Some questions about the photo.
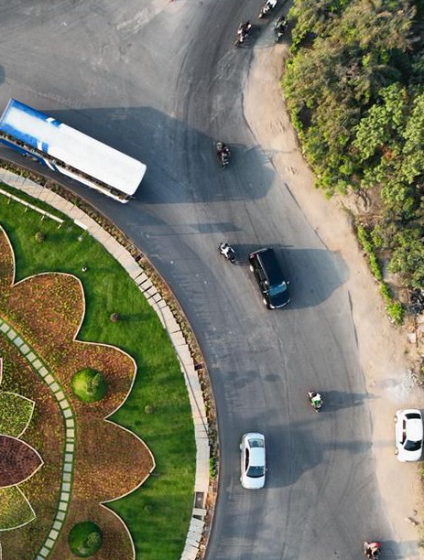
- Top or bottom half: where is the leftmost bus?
top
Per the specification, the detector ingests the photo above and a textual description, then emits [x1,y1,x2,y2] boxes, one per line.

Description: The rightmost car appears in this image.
[391,408,424,461]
